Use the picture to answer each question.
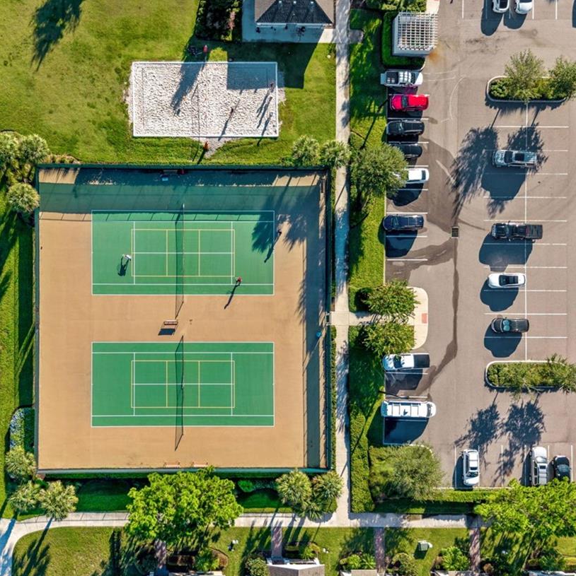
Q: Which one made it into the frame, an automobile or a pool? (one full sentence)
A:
It is an automobile that can be seen here.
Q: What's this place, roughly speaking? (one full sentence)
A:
It's a sports ground.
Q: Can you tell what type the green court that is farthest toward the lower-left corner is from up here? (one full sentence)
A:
It looks like the green court that is farthest toward the lower-left corner is a tennis court.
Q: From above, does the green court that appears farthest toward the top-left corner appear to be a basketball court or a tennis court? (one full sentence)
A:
The green court that appears farthest toward the top-left corner can be classified as a tennis court.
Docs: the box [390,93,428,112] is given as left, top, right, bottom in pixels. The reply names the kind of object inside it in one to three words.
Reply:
car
